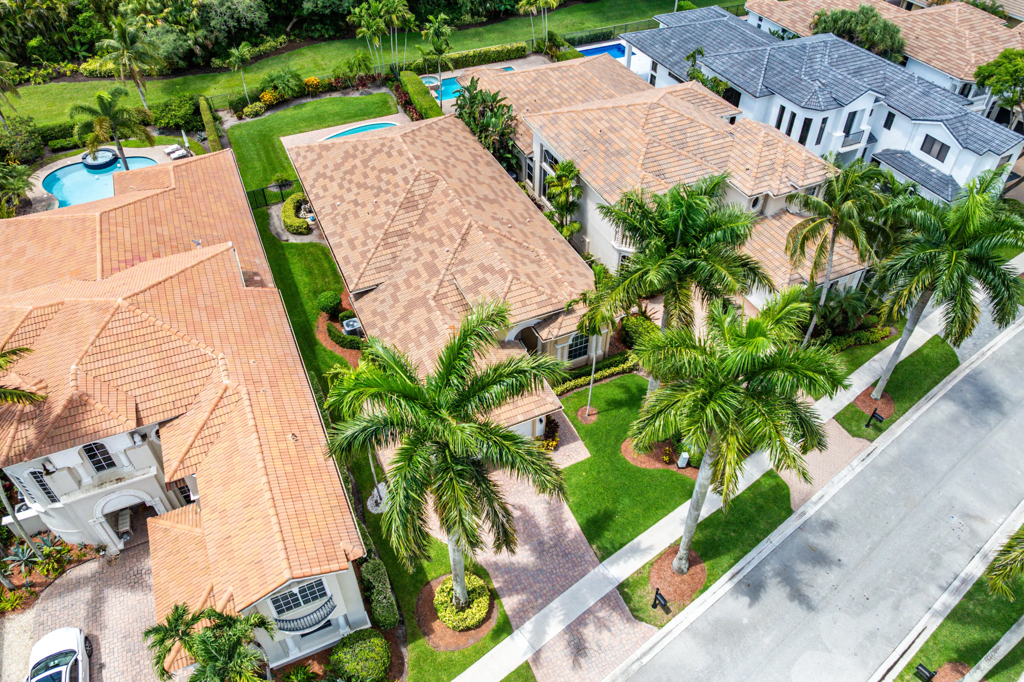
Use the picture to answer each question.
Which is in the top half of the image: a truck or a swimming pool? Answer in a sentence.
Looking in the top half of the image, you will find a swimming pool.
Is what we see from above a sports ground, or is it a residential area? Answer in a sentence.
The area seen from above is a residential area.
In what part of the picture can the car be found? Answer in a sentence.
The car is in the bottom left part of the image.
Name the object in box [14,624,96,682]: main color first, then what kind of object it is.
white car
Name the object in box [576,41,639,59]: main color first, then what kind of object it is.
blue swimming pool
